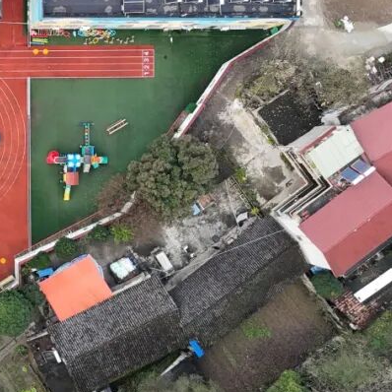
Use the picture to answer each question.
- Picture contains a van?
No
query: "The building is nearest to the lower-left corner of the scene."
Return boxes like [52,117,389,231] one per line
[46,276,188,392]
